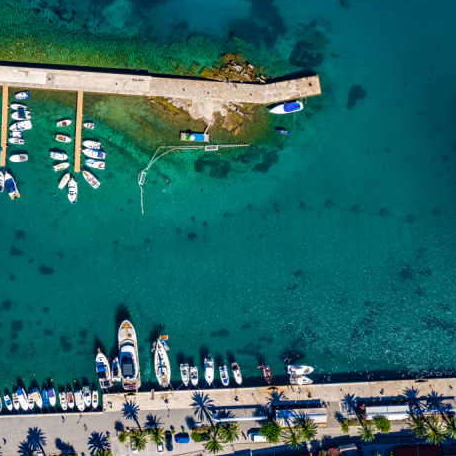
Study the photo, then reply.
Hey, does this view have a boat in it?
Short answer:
Yes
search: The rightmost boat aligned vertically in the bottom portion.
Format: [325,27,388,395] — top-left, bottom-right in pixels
[262,358,274,384]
